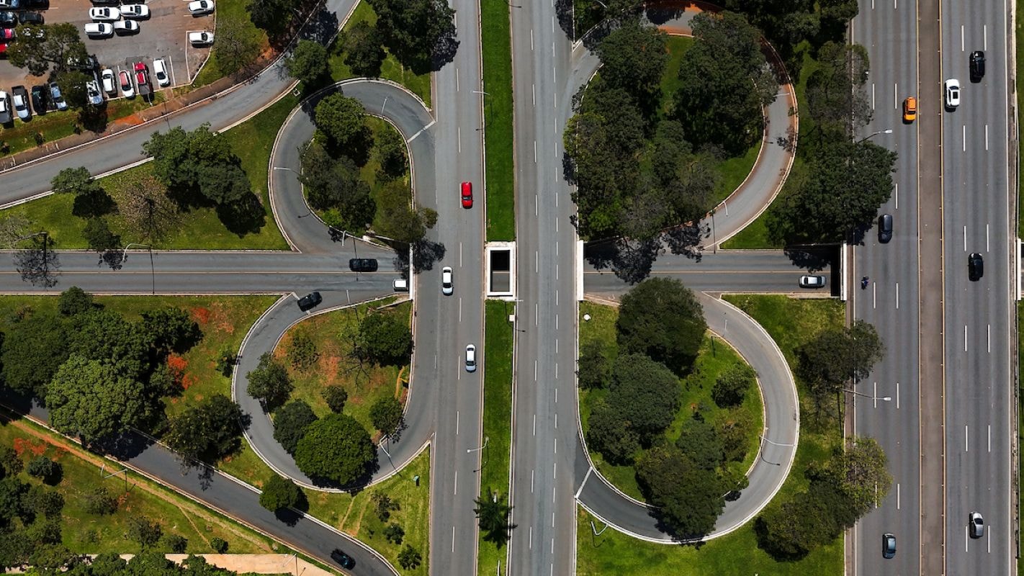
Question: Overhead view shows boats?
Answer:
No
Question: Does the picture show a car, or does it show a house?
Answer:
car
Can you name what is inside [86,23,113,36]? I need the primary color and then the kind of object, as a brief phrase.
white vehicle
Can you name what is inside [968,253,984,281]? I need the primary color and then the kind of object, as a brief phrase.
black car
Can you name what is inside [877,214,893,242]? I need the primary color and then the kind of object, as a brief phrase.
black car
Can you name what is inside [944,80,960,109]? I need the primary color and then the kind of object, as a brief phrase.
white car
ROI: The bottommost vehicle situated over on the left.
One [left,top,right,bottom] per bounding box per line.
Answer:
[329,547,357,570]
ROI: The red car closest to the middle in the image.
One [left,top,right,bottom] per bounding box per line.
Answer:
[460,182,473,208]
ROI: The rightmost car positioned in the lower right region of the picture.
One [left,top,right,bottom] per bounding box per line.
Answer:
[968,511,983,538]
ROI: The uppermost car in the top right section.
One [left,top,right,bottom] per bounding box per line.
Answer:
[968,51,986,81]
